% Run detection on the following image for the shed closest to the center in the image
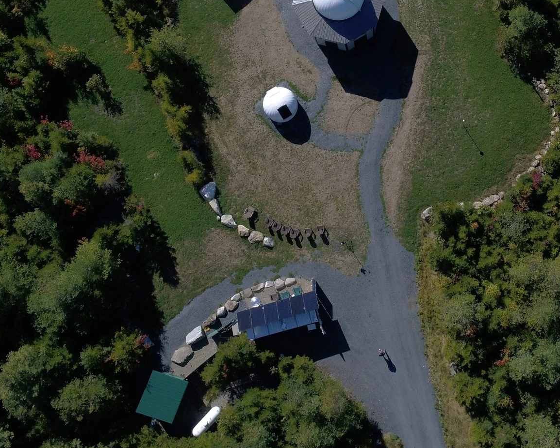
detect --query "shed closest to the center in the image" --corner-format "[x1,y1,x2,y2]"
[238,291,322,340]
